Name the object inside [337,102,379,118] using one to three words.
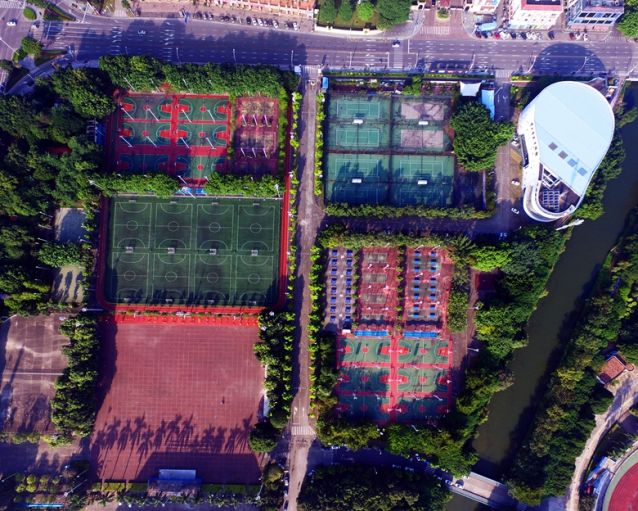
tennis court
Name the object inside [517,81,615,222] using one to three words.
building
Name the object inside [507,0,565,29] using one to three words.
building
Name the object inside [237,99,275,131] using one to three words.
sports court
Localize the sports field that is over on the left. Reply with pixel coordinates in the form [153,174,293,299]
[97,92,292,314]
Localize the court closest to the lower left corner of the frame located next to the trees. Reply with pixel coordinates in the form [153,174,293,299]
[51,264,84,303]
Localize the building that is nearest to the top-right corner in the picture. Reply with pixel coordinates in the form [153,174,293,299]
[564,0,629,34]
